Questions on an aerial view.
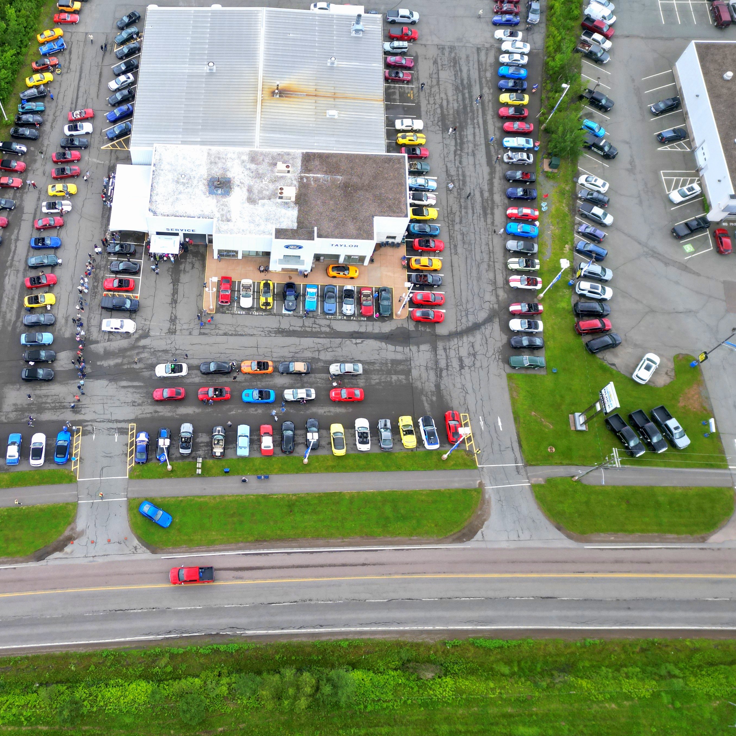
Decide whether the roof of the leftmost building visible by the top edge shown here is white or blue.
white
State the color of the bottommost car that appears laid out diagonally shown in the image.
blue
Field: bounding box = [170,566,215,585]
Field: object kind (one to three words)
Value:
vehicle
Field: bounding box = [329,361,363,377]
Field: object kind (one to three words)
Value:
car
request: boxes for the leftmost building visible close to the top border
[129,1,412,275]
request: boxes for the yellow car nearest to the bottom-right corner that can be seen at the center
[400,416,416,449]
